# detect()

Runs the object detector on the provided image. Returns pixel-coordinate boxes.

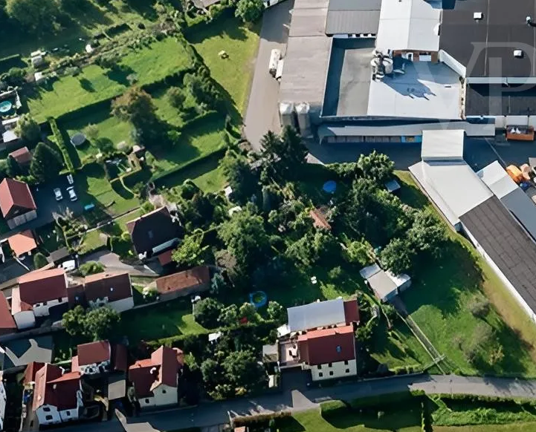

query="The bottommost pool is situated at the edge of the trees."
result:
[250,292,268,308]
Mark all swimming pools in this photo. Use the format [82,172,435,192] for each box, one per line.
[322,180,337,193]
[250,292,268,308]
[0,100,12,112]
